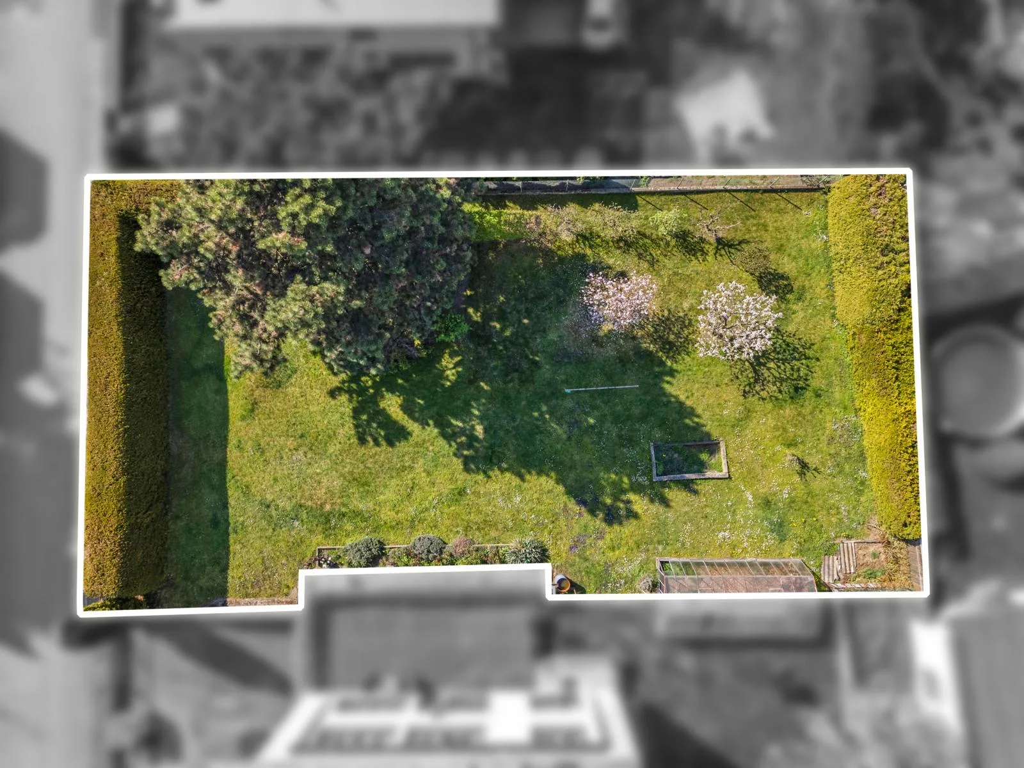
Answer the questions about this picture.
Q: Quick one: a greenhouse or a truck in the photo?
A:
greenhouse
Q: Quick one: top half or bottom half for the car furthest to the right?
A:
top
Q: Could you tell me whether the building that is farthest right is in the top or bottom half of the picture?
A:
bottom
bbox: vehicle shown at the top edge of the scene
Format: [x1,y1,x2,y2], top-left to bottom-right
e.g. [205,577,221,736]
[578,0,625,55]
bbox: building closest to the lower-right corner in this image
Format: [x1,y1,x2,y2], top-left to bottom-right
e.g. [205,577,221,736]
[916,600,1024,768]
